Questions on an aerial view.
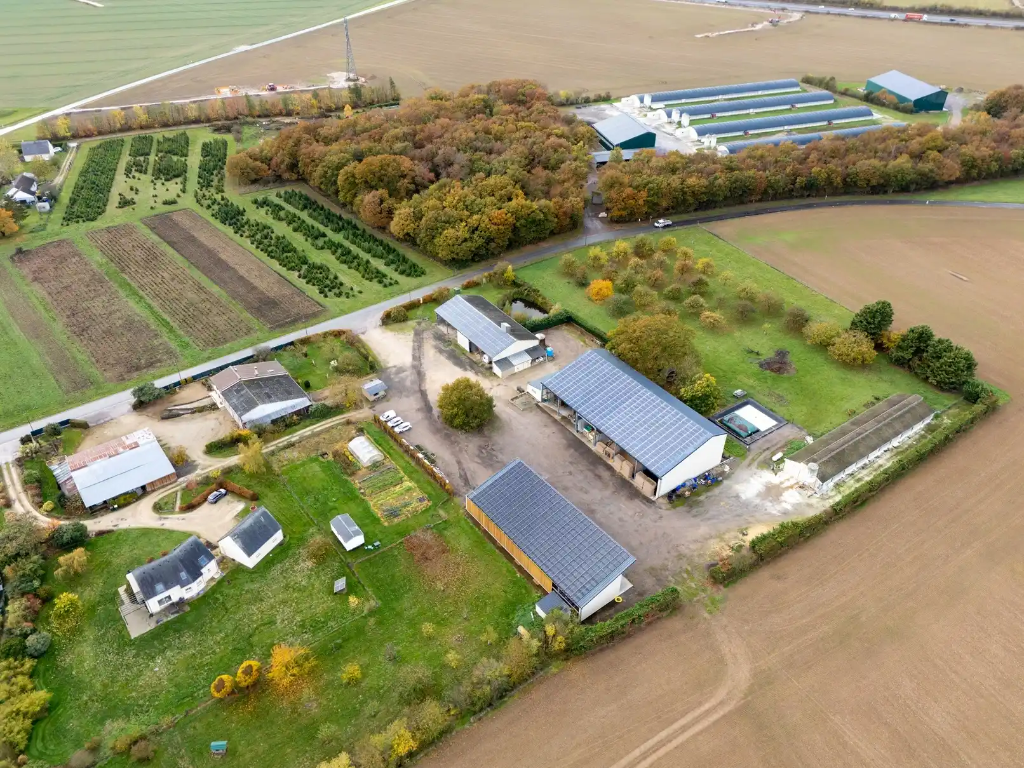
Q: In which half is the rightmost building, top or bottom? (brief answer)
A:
top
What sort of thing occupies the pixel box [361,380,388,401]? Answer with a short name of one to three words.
shed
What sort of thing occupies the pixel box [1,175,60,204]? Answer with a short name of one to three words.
house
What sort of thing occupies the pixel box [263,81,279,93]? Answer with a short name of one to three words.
vehicle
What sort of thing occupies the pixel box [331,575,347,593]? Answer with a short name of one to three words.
solar panel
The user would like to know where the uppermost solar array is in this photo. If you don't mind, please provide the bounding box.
[436,296,514,356]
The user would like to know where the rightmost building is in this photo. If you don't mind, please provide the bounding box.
[866,70,955,113]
